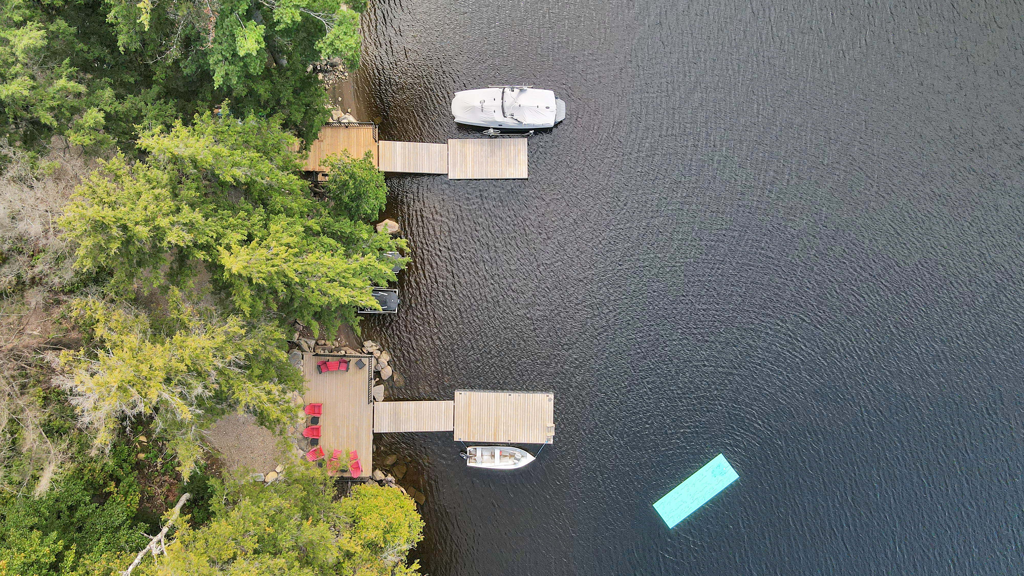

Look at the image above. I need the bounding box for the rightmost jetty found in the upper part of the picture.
[448,138,527,180]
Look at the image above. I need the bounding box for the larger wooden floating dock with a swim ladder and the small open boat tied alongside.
[454,389,553,444]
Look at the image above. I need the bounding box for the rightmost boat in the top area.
[451,83,565,129]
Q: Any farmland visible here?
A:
No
